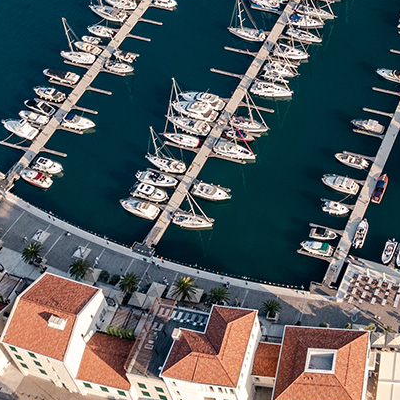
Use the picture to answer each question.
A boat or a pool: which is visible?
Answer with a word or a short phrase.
boat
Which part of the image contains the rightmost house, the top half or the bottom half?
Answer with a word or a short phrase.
bottom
